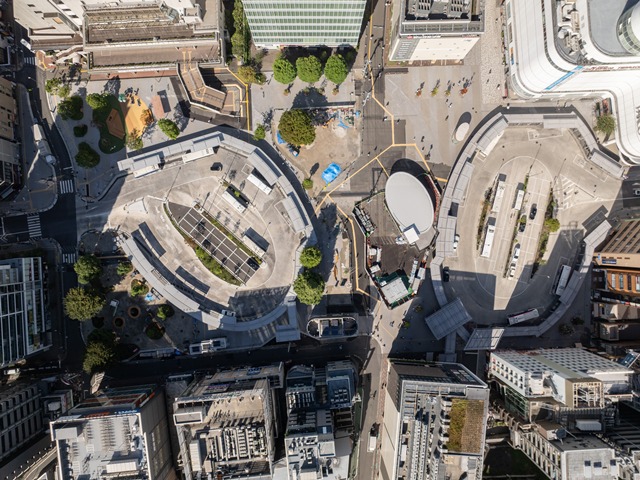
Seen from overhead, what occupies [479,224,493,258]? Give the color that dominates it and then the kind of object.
white vehicle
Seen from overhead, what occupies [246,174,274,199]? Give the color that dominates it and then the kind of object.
white bus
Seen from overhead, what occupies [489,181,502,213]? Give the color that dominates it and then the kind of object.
white vehicle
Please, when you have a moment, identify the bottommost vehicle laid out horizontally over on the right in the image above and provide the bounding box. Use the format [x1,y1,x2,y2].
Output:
[505,308,538,323]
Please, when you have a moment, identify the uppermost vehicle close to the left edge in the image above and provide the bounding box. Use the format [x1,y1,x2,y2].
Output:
[17,36,34,53]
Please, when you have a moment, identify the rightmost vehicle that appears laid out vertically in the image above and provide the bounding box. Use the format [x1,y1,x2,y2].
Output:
[552,263,569,295]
